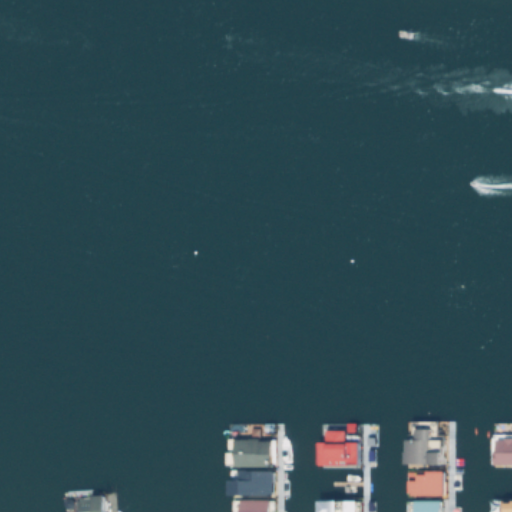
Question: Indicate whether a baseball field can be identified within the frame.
No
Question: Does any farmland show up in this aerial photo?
No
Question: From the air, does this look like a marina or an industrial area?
marina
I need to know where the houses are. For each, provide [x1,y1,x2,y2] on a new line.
[490,501,512,512]
[408,501,446,512]
[316,501,362,512]
[226,438,278,469]
[316,423,361,470]
[232,500,277,512]
[491,434,512,468]
[64,489,110,512]
[404,421,446,470]
[408,471,448,498]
